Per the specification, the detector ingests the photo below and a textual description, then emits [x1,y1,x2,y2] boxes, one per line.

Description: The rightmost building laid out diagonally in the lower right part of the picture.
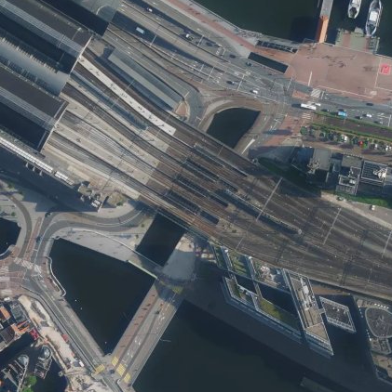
[320,298,358,335]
